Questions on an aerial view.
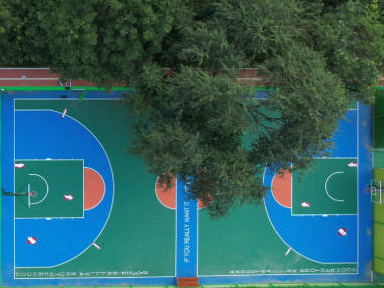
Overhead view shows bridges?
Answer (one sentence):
No, there isn't any bridge down there.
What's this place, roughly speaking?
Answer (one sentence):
The area seen from above is a sports ground.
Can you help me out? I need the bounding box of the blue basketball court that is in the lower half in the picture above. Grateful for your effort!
[0,90,372,288]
